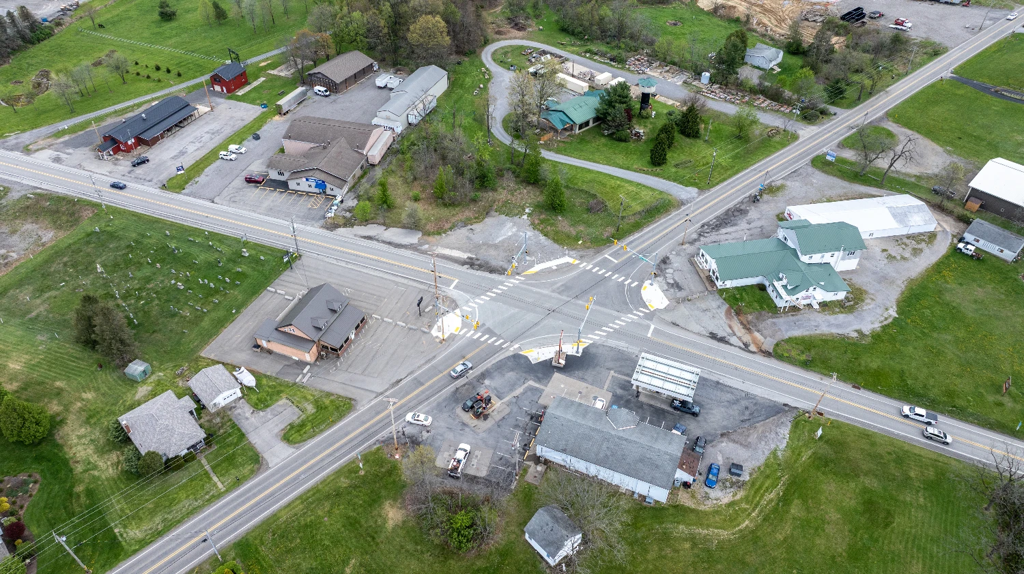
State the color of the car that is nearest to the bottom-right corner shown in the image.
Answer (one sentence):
The car that is nearest to the bottom-right corner is white.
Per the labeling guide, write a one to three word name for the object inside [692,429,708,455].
car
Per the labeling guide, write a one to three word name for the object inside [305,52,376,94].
barn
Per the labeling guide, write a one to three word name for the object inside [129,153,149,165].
vehicle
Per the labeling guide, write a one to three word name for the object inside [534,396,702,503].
building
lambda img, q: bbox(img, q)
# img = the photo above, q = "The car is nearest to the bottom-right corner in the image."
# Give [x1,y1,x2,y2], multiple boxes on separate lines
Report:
[923,423,956,445]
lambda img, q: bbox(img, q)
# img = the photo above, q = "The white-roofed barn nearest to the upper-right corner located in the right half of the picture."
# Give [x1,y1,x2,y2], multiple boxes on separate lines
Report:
[964,150,1024,223]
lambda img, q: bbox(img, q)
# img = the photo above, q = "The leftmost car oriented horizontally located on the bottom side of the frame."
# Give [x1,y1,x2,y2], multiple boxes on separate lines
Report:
[404,410,433,425]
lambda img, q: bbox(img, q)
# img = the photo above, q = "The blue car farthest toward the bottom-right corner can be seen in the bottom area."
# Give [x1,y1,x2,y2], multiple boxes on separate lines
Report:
[705,460,722,488]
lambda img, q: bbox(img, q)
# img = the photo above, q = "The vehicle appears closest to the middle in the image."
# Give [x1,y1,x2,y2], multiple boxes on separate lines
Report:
[448,360,474,376]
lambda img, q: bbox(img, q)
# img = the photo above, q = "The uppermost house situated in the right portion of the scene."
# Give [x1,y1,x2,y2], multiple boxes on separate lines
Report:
[745,42,783,68]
